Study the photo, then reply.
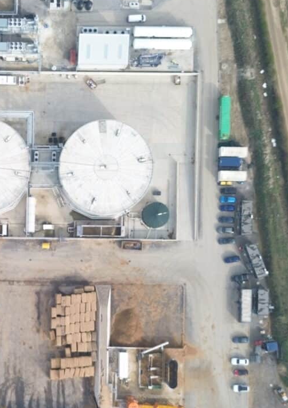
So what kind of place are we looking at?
industrial area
